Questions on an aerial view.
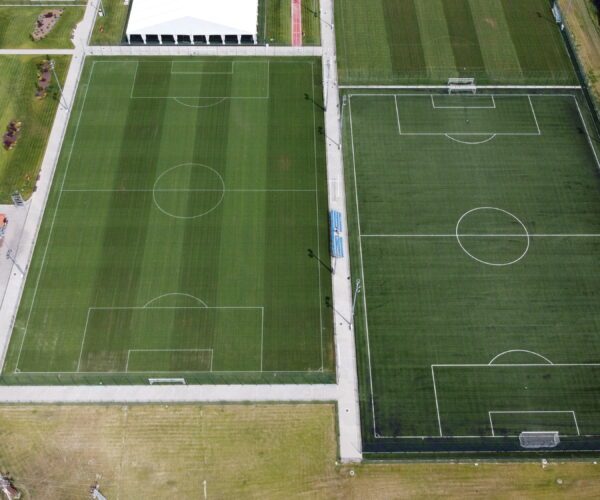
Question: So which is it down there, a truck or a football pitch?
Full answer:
The one in the frame is a football pitch.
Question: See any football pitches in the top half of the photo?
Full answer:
Yes, a football pitch appears in the top half of the photo.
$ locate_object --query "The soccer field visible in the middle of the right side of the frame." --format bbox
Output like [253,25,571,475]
[338,87,600,452]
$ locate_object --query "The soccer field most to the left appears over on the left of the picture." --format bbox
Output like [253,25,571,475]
[0,55,336,386]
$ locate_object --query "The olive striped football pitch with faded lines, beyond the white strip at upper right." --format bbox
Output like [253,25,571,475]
[333,0,580,86]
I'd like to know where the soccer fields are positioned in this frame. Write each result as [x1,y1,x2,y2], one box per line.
[333,0,580,86]
[0,55,336,386]
[338,87,600,452]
